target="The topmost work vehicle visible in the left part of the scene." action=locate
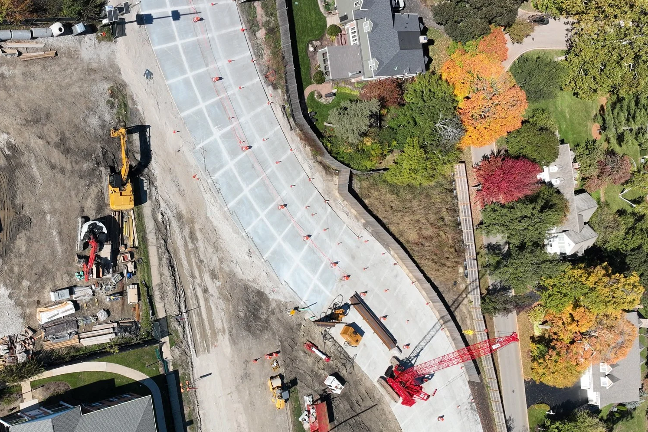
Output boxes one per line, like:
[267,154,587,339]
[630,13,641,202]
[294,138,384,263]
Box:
[103,126,134,211]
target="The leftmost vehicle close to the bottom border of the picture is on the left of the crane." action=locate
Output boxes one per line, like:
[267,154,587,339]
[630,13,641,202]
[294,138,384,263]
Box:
[271,376,293,411]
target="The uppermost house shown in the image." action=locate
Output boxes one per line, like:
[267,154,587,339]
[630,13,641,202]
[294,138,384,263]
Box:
[316,0,427,83]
